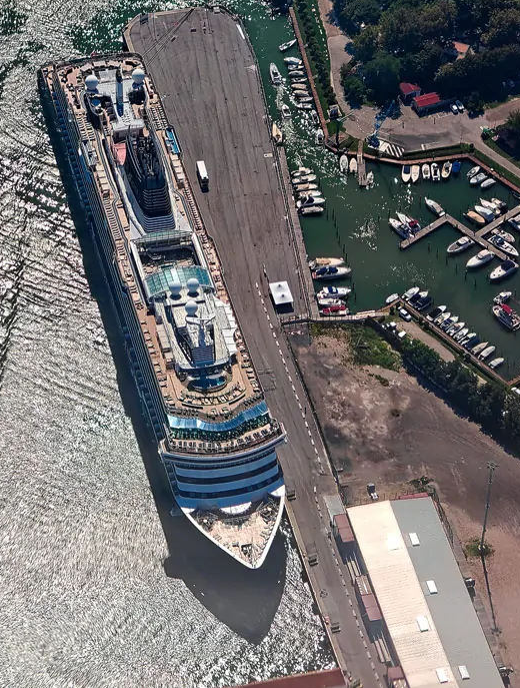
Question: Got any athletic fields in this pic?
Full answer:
No, the picture doesn't show any athletic field.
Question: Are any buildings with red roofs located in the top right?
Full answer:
Yes, a building with a red roof can be seen in the top right.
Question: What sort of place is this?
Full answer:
What you see here is a port.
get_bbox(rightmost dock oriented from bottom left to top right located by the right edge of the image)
[474,203,520,237]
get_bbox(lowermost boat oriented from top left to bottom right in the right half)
[494,304,520,333]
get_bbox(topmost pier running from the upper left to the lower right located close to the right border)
[445,215,510,262]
